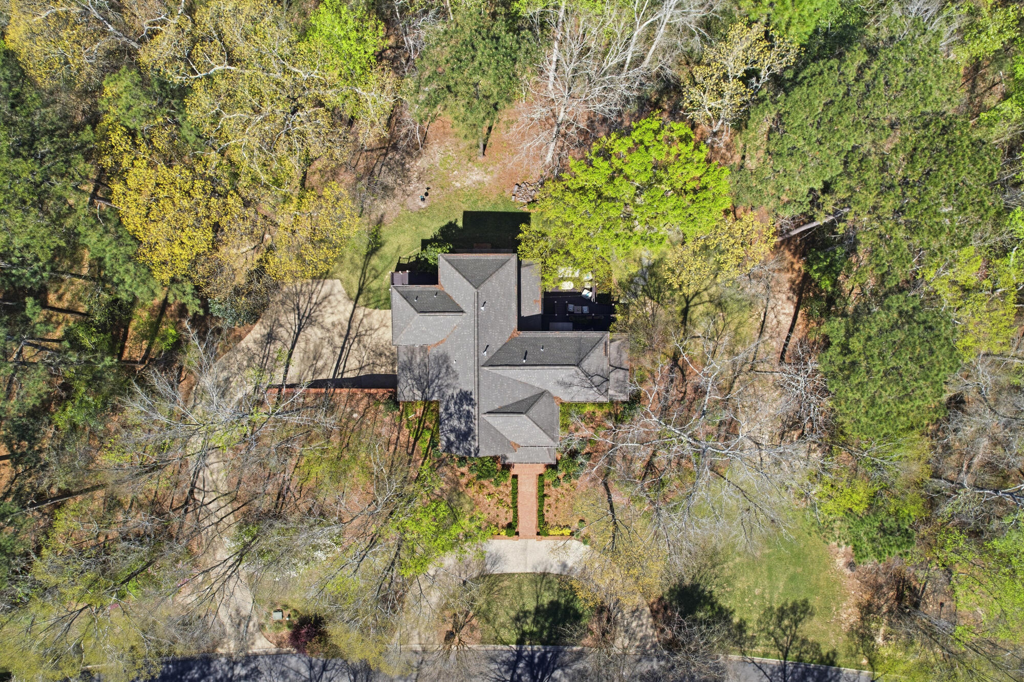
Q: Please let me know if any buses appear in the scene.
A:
No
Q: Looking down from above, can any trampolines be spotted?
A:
No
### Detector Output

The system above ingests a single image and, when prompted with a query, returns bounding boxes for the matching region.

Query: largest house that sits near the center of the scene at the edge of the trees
[390,252,631,466]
